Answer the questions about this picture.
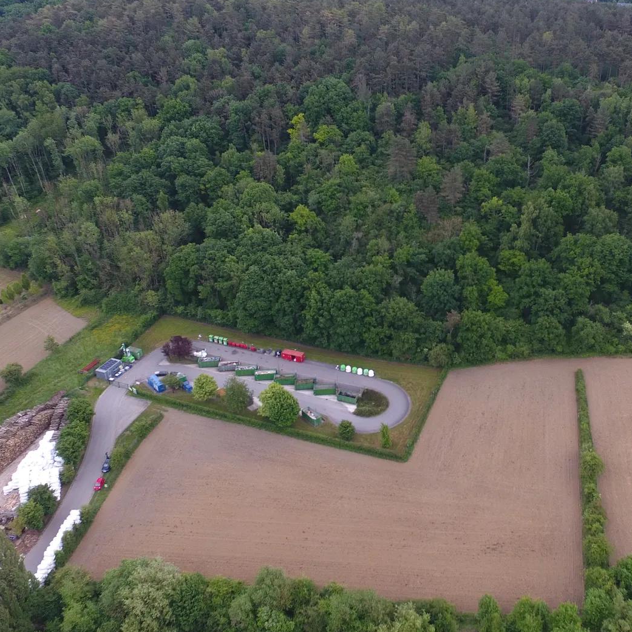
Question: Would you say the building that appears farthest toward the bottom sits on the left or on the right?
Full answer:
The building that appears farthest toward the bottom appears in the left half of the scene.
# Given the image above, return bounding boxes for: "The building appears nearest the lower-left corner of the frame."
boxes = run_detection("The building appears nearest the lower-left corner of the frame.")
[96,358,124,380]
